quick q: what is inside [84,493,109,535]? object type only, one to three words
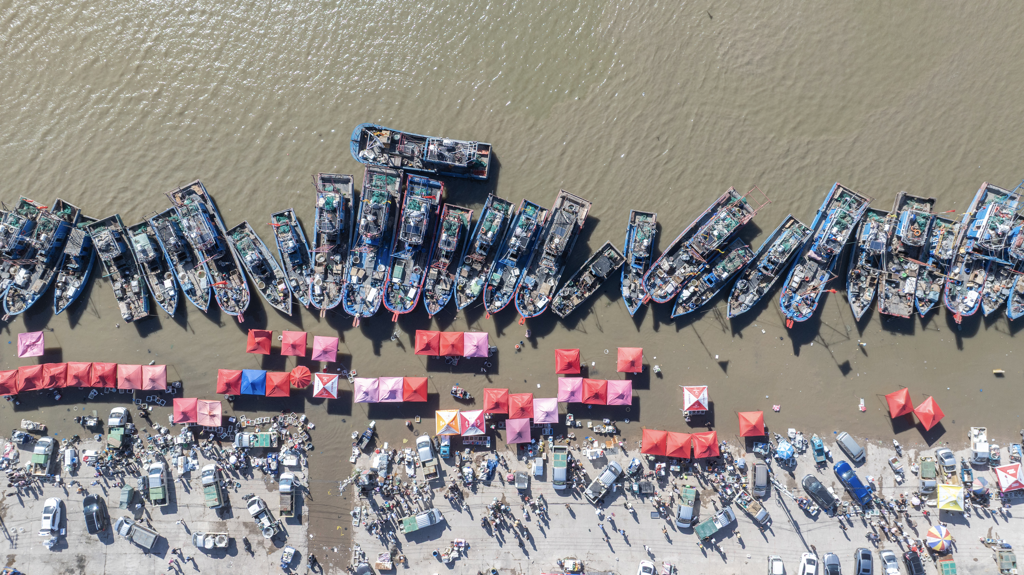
car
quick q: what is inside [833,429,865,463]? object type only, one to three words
car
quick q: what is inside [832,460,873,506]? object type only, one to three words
truck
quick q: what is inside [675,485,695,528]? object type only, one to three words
vehicle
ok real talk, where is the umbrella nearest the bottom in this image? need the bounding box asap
[925,526,950,551]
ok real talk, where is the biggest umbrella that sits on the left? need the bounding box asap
[291,366,312,387]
